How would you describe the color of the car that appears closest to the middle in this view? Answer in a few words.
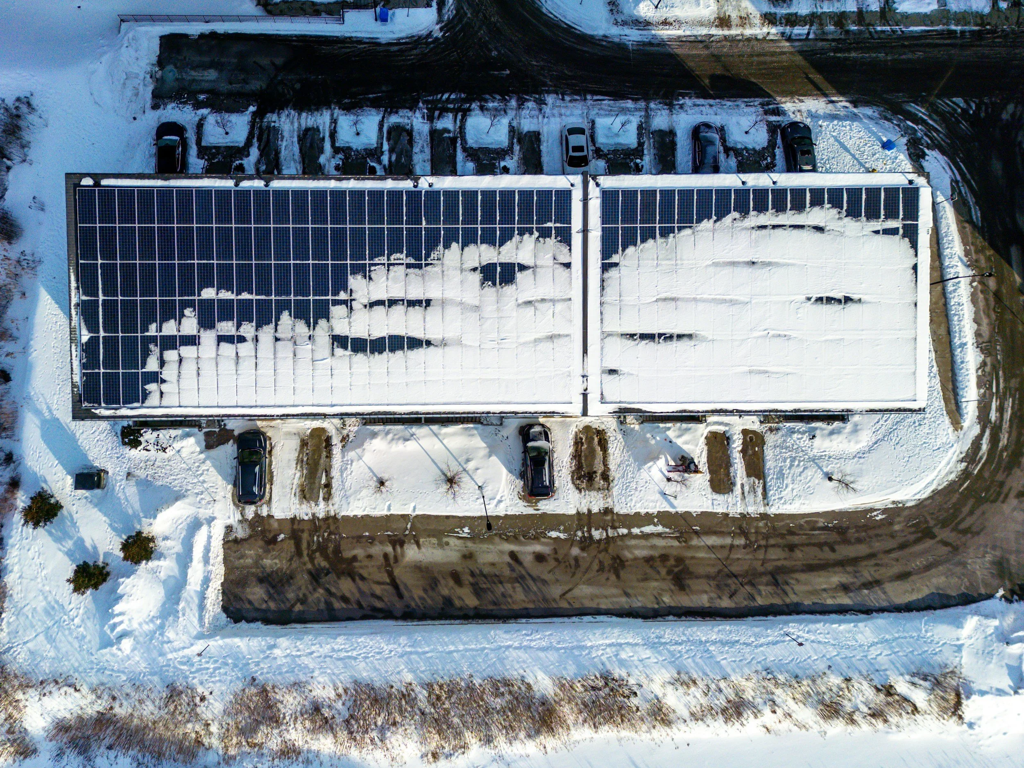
black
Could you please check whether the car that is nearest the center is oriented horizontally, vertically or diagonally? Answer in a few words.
vertically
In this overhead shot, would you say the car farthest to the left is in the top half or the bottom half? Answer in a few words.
top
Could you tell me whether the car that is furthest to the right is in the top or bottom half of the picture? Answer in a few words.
top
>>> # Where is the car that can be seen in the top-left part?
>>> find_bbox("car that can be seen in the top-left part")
[151,125,187,172]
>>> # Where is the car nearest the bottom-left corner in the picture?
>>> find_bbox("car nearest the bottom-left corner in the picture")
[234,430,270,504]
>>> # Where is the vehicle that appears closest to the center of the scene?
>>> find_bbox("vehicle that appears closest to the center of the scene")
[521,424,557,499]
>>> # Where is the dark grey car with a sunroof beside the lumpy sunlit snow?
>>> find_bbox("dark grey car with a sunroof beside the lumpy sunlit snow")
[778,122,818,172]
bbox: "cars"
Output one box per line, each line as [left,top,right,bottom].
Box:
[778,122,818,172]
[521,424,557,499]
[689,123,725,172]
[560,121,594,172]
[151,125,187,172]
[234,430,270,504]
